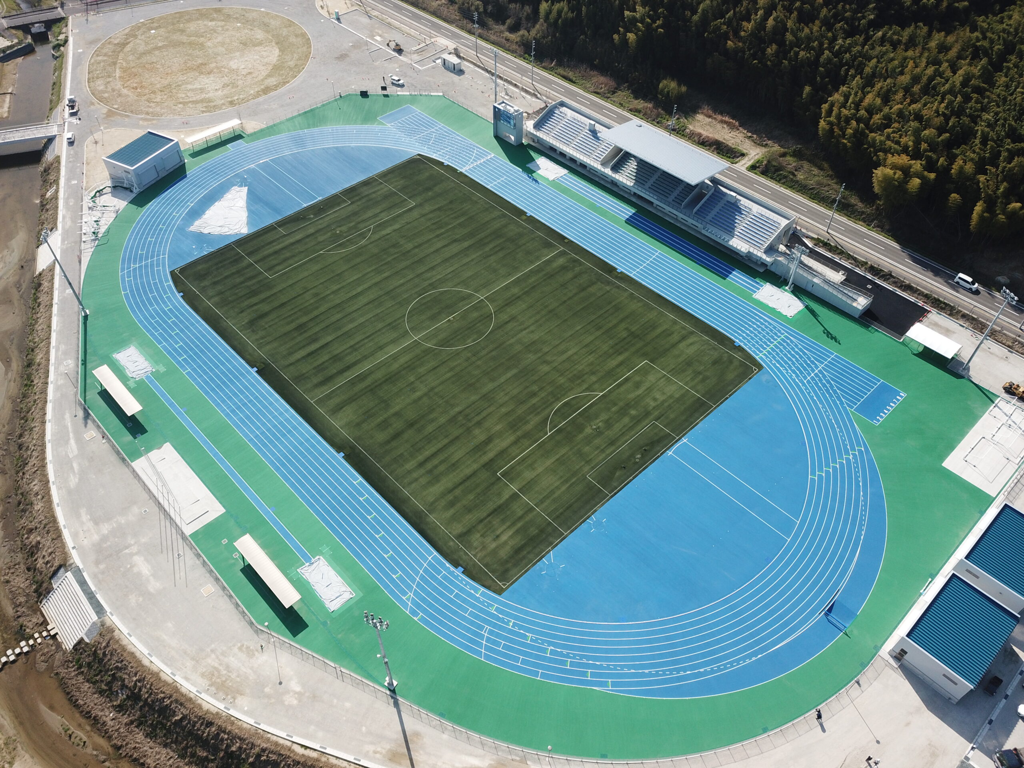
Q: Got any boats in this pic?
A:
No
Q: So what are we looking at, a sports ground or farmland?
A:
sports ground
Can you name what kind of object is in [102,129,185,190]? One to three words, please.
shed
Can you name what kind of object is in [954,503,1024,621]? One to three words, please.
shed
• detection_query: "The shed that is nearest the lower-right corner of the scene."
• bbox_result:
[888,569,1021,703]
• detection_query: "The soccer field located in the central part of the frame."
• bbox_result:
[169,153,763,595]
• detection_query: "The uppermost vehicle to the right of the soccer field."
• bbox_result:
[953,275,978,293]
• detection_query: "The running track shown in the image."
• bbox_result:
[118,125,865,686]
